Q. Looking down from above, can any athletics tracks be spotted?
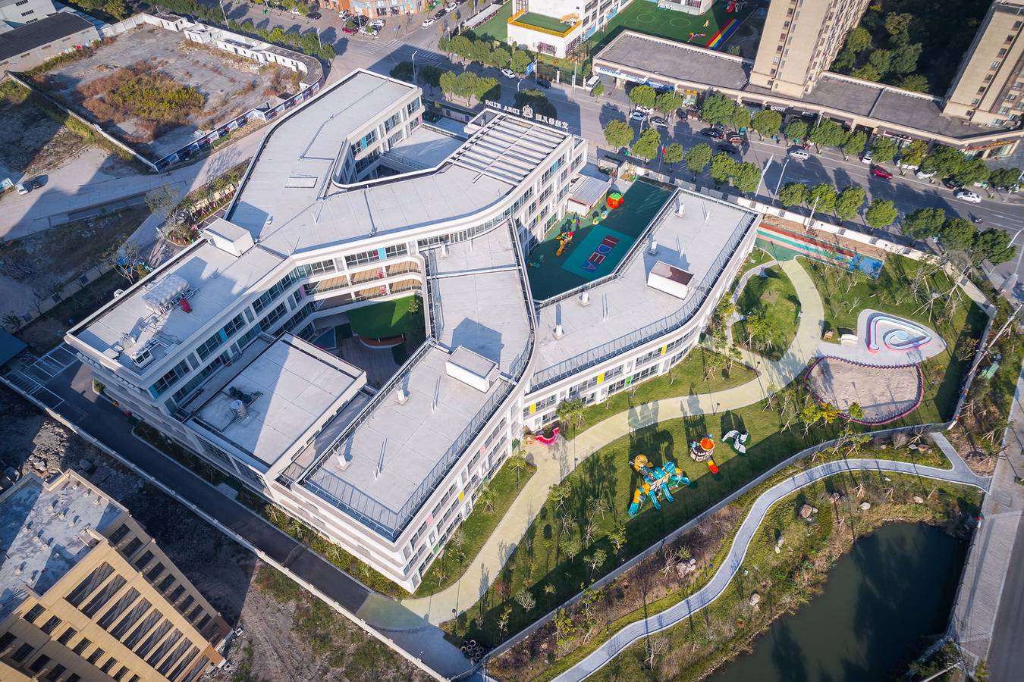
Yes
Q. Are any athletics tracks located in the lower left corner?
No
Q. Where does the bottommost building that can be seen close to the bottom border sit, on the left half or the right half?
left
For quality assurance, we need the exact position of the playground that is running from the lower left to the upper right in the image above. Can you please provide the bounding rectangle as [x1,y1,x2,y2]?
[526,172,641,275]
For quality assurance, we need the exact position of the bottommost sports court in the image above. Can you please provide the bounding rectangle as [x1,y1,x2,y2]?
[561,224,636,279]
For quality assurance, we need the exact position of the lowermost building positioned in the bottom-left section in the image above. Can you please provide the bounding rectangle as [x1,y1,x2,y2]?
[0,460,234,682]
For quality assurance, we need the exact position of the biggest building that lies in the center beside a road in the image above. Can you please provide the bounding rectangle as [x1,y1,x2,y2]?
[60,69,764,598]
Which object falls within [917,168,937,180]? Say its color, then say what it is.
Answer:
white vehicle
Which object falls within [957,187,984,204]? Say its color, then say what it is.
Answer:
white car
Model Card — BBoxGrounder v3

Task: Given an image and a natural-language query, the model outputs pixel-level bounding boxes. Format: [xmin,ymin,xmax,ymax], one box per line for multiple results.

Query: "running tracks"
[757,221,886,279]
